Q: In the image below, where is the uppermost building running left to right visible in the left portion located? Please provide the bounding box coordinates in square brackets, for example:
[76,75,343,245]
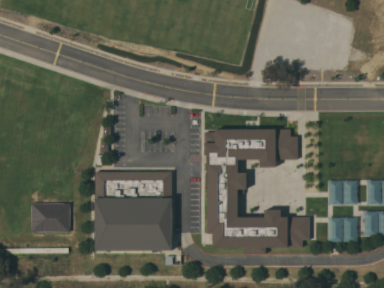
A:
[94,170,172,198]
